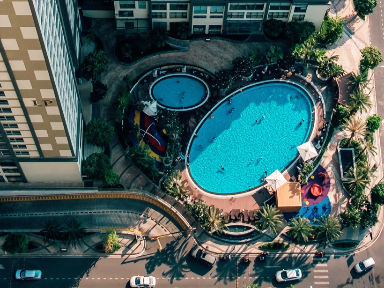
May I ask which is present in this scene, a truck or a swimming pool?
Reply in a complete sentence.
The one in the frame is a swimming pool.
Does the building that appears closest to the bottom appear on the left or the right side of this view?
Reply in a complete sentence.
The building that appears closest to the bottom is on the right side of the image.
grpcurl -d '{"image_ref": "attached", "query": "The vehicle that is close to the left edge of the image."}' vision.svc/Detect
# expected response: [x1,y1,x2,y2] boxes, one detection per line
[16,267,42,281]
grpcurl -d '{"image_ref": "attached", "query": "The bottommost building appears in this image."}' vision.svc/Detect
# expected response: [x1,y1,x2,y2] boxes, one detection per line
[274,182,302,211]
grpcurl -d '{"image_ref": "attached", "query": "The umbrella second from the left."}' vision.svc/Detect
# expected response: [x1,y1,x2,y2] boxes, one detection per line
[264,169,287,191]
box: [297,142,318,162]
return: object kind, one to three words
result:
umbrella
